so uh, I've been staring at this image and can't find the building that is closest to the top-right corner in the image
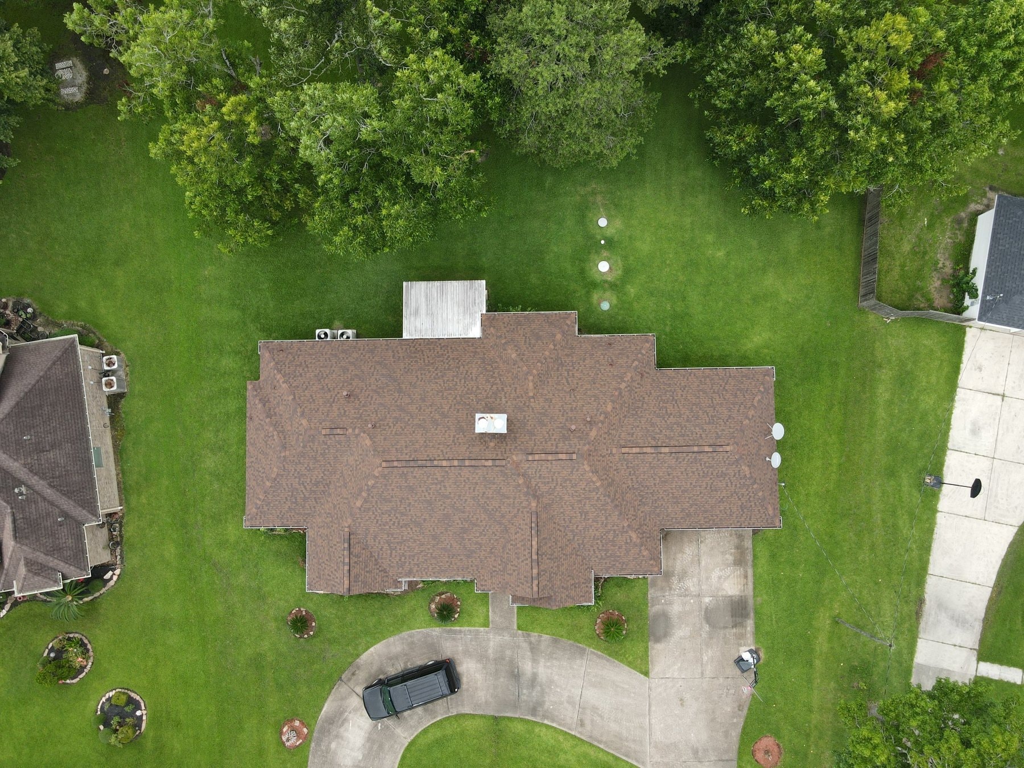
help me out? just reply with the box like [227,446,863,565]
[962,193,1024,338]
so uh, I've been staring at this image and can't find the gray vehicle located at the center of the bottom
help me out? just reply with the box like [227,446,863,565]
[363,656,462,722]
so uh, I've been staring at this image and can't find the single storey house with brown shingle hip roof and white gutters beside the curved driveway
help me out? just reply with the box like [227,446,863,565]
[244,311,783,611]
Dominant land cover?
grass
